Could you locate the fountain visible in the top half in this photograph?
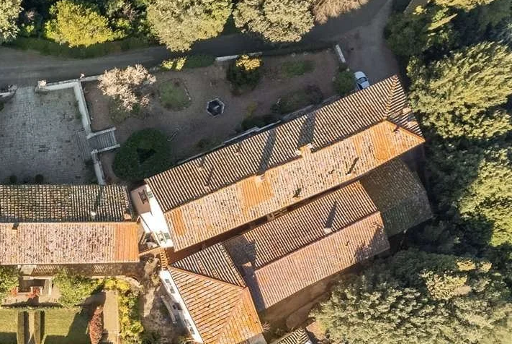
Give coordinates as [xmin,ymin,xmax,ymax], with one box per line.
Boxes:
[206,98,224,116]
